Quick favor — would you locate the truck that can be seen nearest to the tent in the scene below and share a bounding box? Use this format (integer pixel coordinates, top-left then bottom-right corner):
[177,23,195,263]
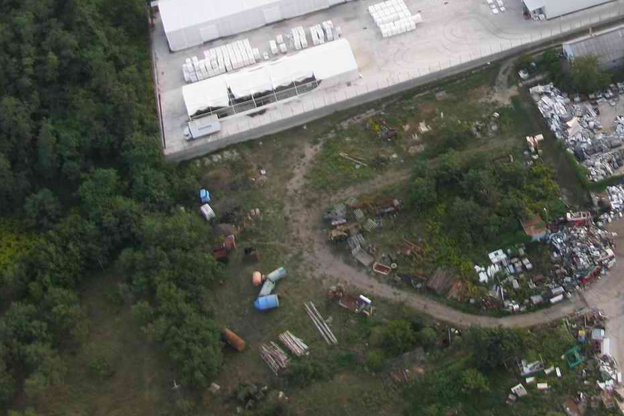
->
[184,113,221,139]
